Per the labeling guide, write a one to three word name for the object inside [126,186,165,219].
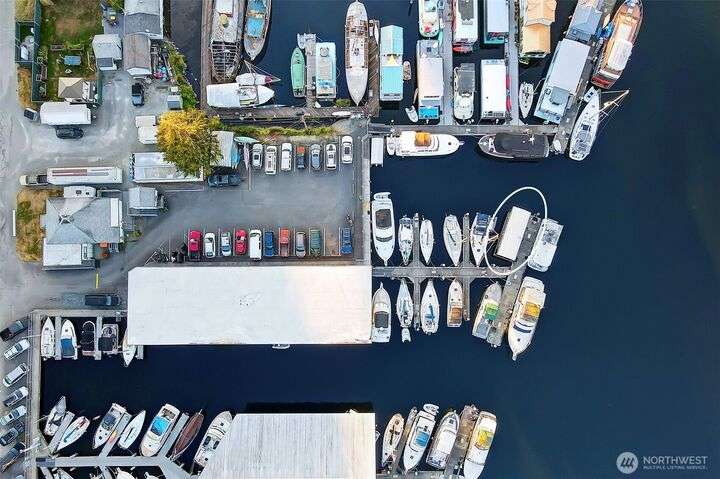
shed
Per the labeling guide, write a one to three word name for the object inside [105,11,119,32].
vehicle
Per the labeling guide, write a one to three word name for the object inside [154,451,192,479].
pier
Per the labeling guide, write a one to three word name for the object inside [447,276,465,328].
boat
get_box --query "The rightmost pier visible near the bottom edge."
[378,405,477,479]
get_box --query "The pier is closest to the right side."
[555,0,619,154]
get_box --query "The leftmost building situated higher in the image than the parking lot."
[57,77,90,102]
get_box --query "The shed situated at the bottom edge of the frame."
[202,407,376,479]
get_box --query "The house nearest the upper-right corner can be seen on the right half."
[493,206,531,263]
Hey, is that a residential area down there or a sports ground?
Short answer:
residential area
